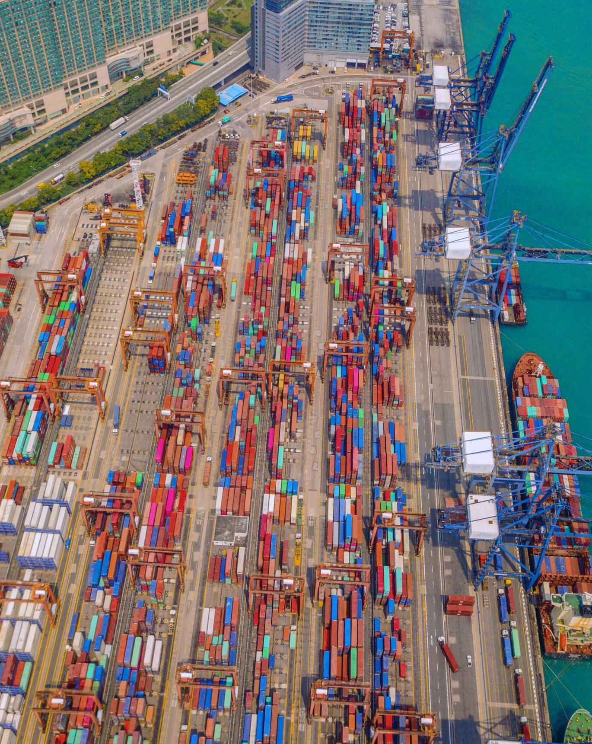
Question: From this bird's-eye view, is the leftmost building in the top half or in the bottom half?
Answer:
top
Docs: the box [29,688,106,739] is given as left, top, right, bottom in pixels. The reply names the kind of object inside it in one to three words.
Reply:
container crane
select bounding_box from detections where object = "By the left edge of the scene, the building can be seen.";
[0,0,207,148]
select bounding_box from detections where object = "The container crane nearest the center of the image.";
[267,356,315,404]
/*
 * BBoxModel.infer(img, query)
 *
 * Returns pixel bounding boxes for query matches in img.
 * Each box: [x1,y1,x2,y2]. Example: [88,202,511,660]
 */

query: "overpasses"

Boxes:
[0,27,256,213]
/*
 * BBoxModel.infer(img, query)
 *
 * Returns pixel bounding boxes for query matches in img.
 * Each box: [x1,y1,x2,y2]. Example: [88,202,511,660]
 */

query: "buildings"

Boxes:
[213,515,248,546]
[0,0,207,148]
[219,84,248,111]
[256,0,377,82]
